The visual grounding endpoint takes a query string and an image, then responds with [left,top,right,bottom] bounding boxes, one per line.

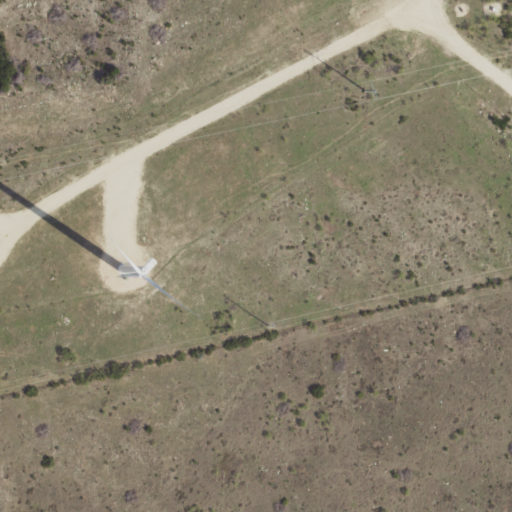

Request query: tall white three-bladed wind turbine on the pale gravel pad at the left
[110,240,198,314]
